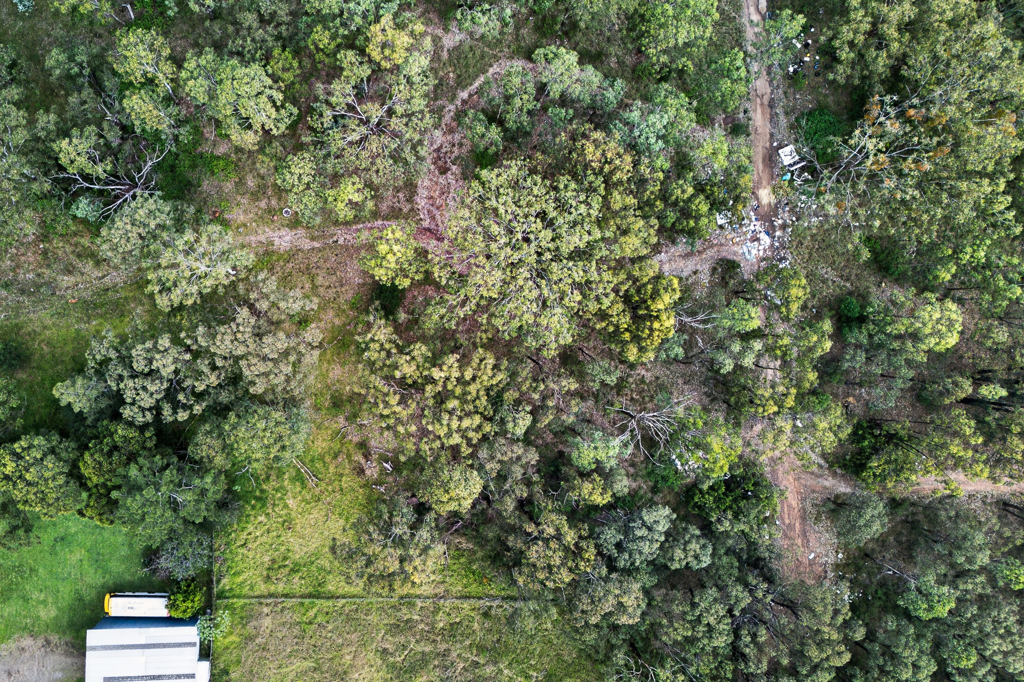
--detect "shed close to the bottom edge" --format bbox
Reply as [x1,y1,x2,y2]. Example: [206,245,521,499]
[84,609,215,682]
